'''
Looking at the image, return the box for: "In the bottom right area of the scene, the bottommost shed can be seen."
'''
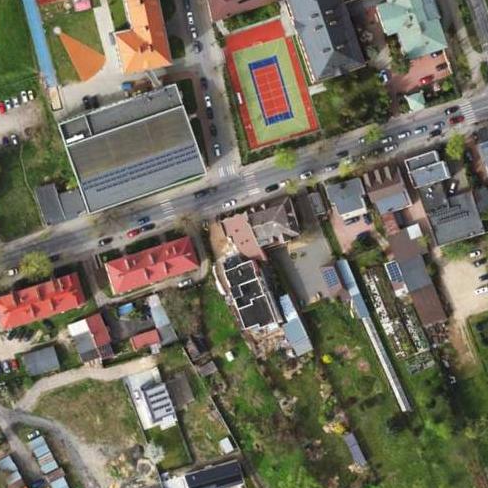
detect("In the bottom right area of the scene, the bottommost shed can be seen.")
[343,433,367,467]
